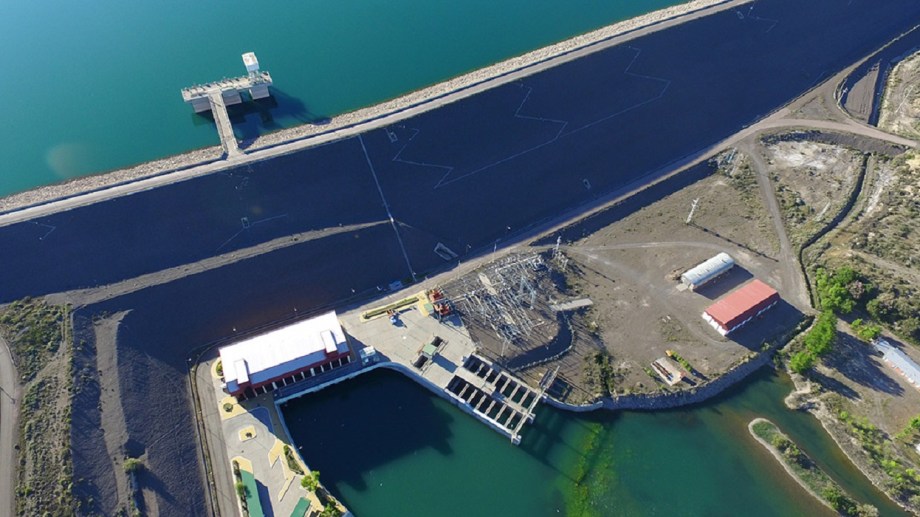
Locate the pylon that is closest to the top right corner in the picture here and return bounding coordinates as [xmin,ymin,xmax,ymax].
[684,197,699,225]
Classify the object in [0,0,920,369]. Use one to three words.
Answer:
dam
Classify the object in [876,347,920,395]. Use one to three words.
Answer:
house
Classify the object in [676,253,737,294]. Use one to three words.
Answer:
shed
